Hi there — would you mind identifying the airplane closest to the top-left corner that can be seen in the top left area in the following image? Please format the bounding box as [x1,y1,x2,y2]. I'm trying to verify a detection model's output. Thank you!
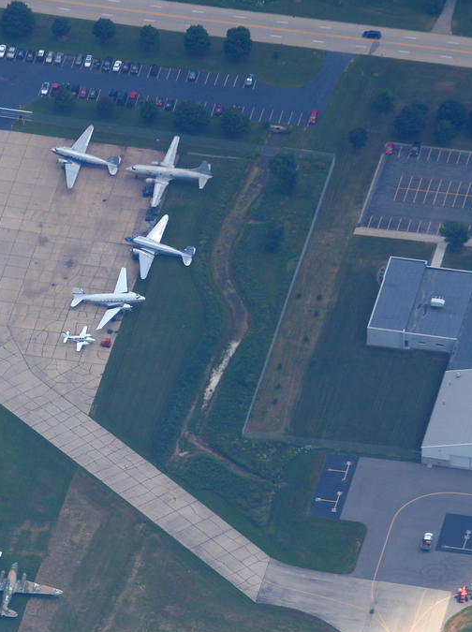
[52,126,120,187]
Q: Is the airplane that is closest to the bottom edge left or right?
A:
left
